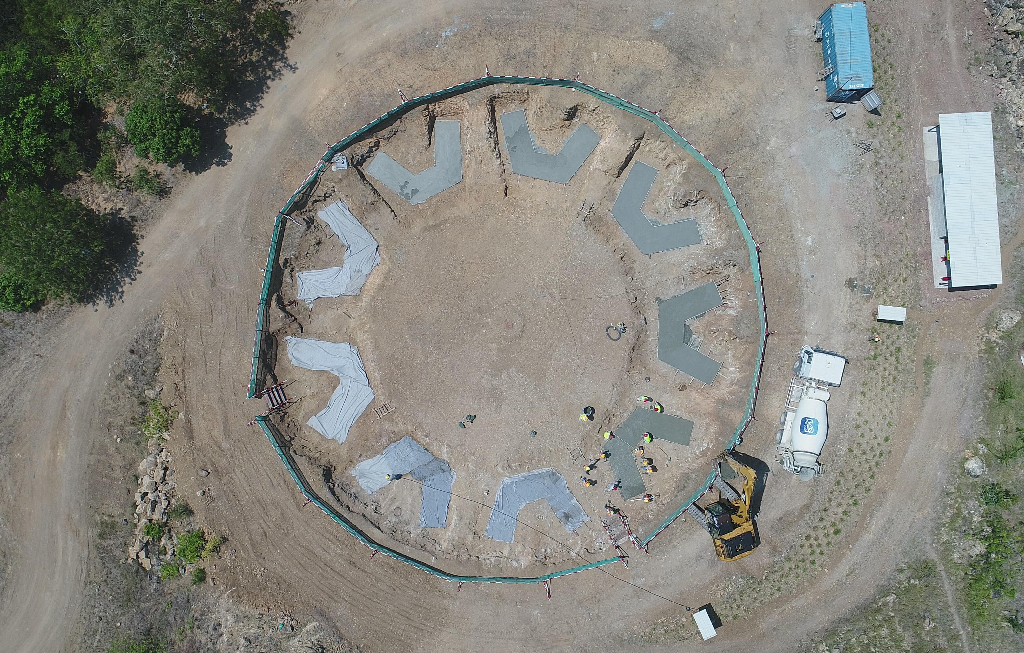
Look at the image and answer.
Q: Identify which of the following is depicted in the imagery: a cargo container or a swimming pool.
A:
cargo container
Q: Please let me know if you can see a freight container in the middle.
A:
No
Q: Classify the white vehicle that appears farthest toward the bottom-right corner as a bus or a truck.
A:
truck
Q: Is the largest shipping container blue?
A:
Yes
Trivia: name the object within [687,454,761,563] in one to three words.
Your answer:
work vehicle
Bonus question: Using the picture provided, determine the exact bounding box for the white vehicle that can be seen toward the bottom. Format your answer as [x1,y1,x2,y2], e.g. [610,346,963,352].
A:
[766,347,849,480]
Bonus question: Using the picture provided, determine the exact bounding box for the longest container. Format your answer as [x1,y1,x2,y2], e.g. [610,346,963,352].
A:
[817,1,881,108]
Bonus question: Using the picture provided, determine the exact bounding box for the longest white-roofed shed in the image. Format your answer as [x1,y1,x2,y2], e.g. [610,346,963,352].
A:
[919,110,1004,288]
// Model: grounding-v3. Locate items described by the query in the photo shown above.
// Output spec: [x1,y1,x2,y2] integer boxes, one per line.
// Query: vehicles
[687,454,761,563]
[766,347,849,480]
